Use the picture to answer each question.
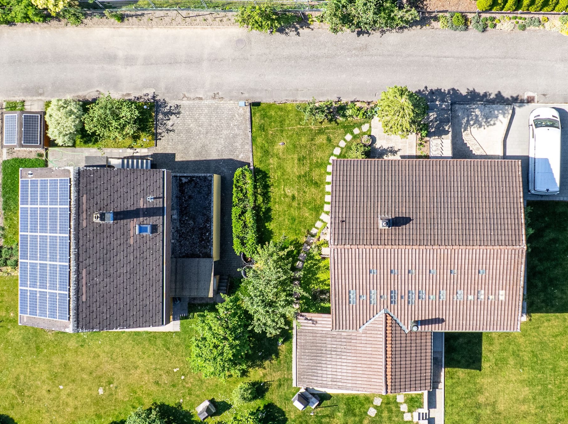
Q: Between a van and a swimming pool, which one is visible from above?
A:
van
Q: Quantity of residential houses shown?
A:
2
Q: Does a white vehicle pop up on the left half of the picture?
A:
No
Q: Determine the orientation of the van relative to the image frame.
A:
vertically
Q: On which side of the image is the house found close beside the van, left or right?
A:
right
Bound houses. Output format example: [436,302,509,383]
[18,155,232,333]
[292,158,527,396]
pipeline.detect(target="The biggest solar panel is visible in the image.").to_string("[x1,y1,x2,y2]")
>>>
[24,114,41,143]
